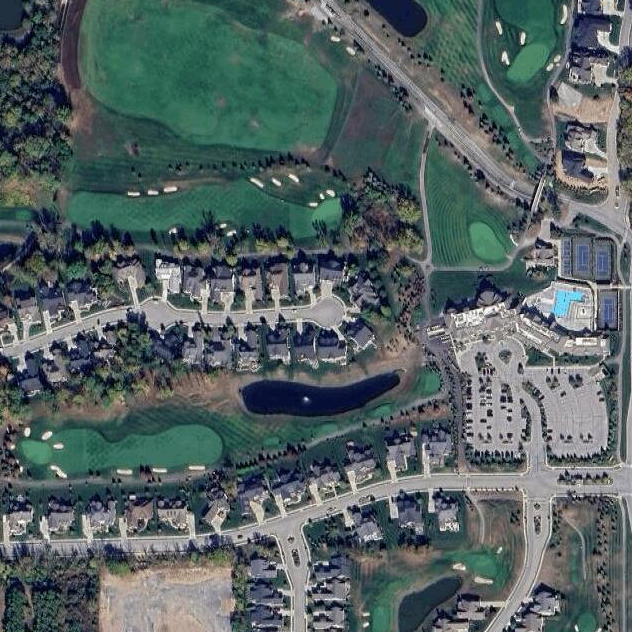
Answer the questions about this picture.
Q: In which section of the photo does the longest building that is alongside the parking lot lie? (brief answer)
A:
right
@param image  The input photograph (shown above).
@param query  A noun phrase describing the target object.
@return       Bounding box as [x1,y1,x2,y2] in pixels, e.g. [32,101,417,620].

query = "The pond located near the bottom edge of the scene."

[397,575,462,632]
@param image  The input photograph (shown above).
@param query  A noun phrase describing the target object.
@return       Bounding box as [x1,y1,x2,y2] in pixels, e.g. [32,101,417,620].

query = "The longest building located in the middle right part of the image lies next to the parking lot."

[441,286,612,357]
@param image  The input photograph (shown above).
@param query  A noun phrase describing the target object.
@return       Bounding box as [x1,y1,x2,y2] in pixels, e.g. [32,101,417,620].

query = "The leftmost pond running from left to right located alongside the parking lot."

[238,371,400,416]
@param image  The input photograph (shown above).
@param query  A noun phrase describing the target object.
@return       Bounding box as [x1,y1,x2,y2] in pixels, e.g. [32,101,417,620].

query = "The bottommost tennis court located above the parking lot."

[599,293,617,328]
